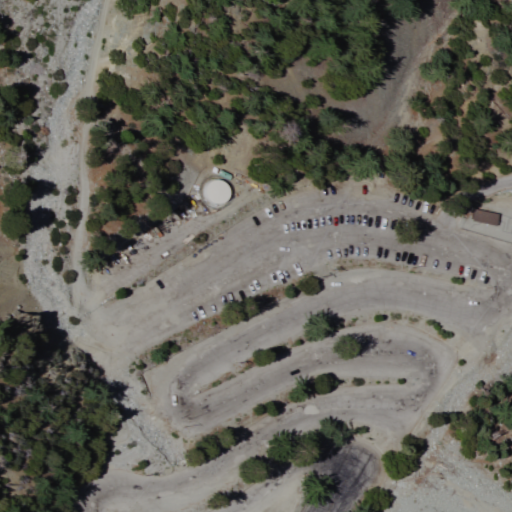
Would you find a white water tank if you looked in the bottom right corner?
No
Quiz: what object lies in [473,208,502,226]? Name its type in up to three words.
building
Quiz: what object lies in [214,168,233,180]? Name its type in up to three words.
vehicle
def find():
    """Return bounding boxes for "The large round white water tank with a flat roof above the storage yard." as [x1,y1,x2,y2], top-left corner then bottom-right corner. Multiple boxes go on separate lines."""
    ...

[202,178,232,208]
